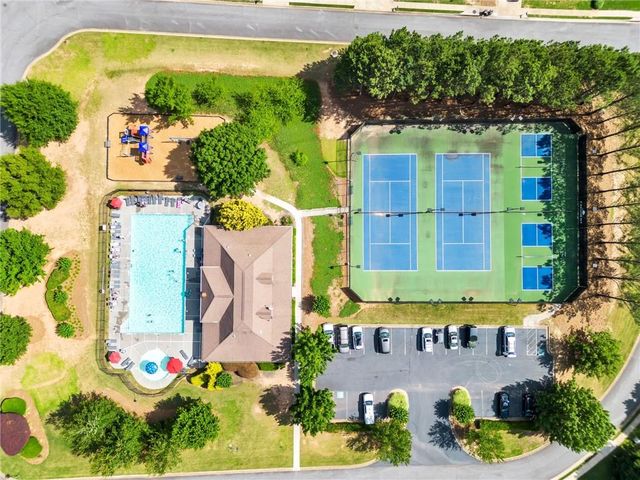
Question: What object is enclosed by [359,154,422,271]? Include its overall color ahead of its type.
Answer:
blue tennis court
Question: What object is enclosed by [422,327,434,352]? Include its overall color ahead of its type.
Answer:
white vehicle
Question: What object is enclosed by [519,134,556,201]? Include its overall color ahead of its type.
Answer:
blue sports court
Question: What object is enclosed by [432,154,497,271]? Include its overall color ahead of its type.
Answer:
blue tennis court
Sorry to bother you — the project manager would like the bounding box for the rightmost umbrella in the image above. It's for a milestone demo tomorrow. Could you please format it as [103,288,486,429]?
[167,357,184,374]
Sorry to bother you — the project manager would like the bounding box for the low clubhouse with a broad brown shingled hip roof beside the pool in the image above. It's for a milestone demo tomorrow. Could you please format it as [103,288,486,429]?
[200,224,293,362]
